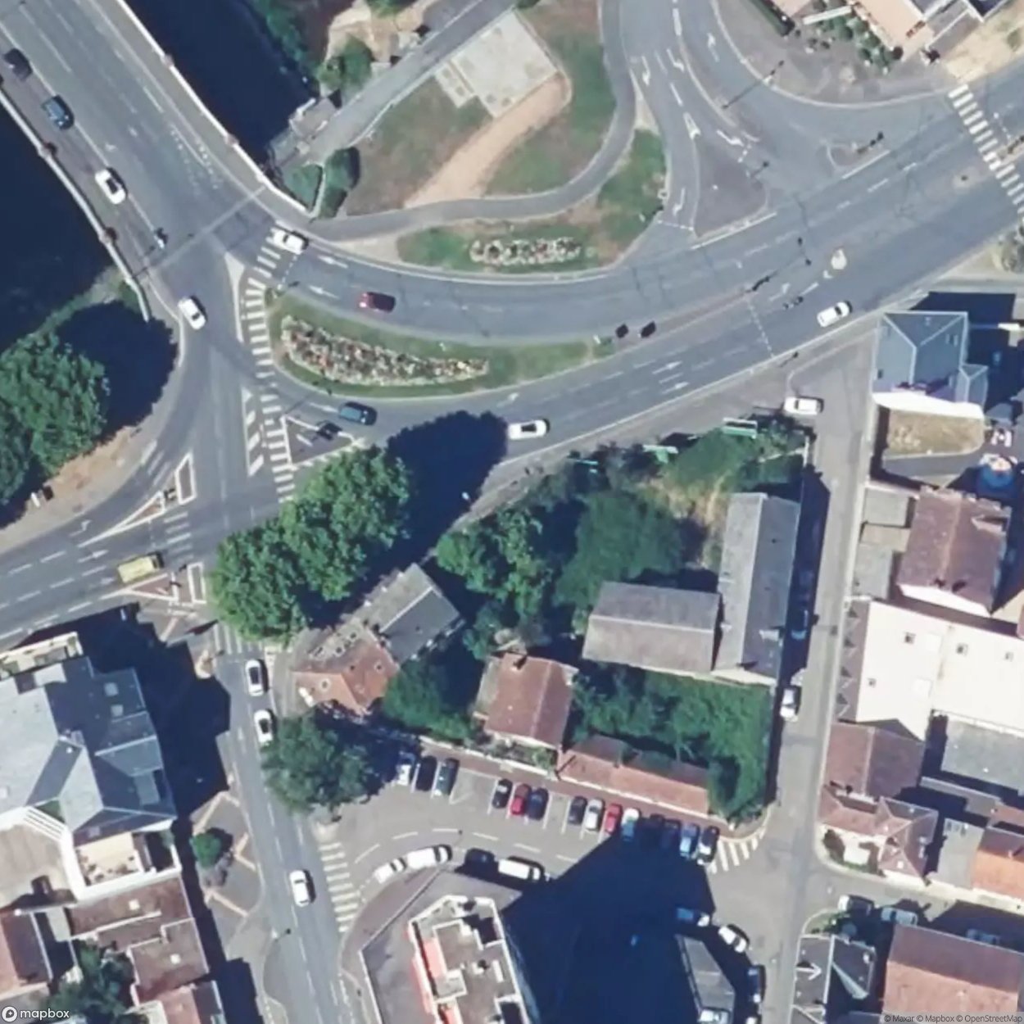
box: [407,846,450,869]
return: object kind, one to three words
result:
vehicle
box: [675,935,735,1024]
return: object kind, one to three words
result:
building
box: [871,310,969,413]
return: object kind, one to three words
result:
house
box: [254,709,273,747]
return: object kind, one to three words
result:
car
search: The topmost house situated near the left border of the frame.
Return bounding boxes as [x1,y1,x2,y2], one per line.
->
[0,657,175,848]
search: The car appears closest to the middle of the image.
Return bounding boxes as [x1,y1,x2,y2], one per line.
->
[509,419,548,439]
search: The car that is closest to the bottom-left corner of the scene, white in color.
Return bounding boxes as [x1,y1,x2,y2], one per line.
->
[292,870,311,905]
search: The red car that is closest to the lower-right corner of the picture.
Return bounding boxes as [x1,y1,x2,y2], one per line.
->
[602,802,622,836]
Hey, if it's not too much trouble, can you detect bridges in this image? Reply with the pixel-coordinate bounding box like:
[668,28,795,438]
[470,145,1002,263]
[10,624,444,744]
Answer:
[0,0,360,267]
